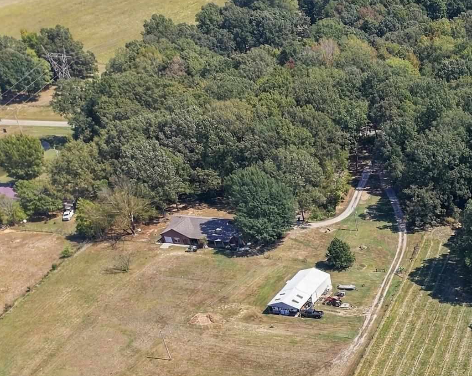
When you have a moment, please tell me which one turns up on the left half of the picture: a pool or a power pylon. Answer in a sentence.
Visible on the left half of the picture is a power pylon.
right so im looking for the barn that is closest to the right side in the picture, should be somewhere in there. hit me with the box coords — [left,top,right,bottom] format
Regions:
[267,269,331,318]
